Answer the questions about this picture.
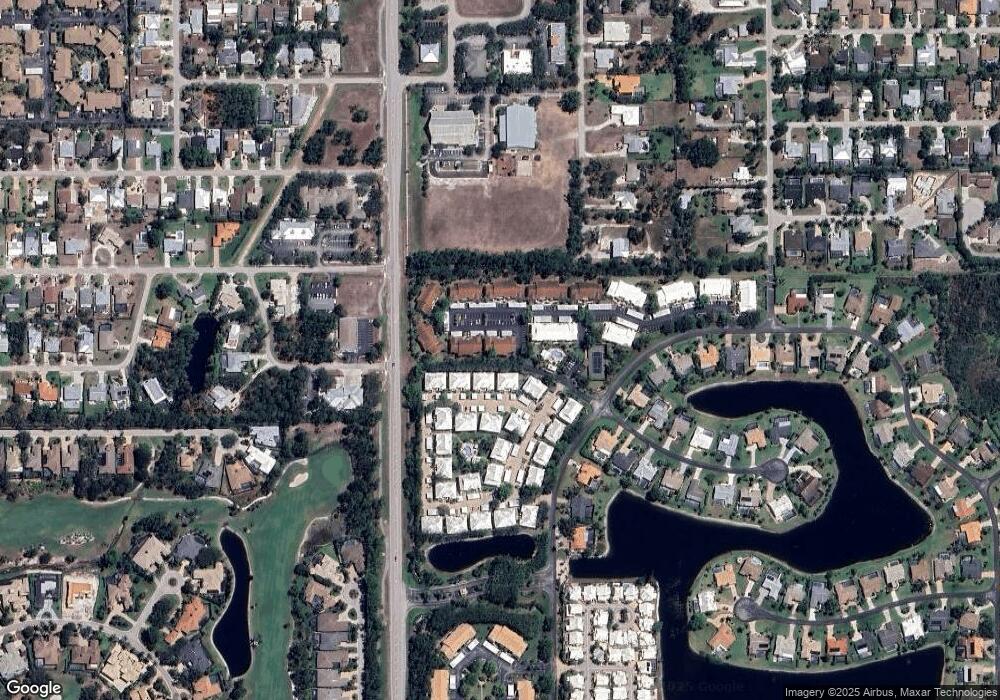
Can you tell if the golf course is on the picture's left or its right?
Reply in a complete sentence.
The golf course appears in the left half of the scene.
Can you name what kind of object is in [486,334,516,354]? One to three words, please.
building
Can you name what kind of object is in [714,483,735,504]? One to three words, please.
house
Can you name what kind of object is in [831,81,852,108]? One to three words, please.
house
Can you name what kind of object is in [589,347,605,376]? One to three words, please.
tennis court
